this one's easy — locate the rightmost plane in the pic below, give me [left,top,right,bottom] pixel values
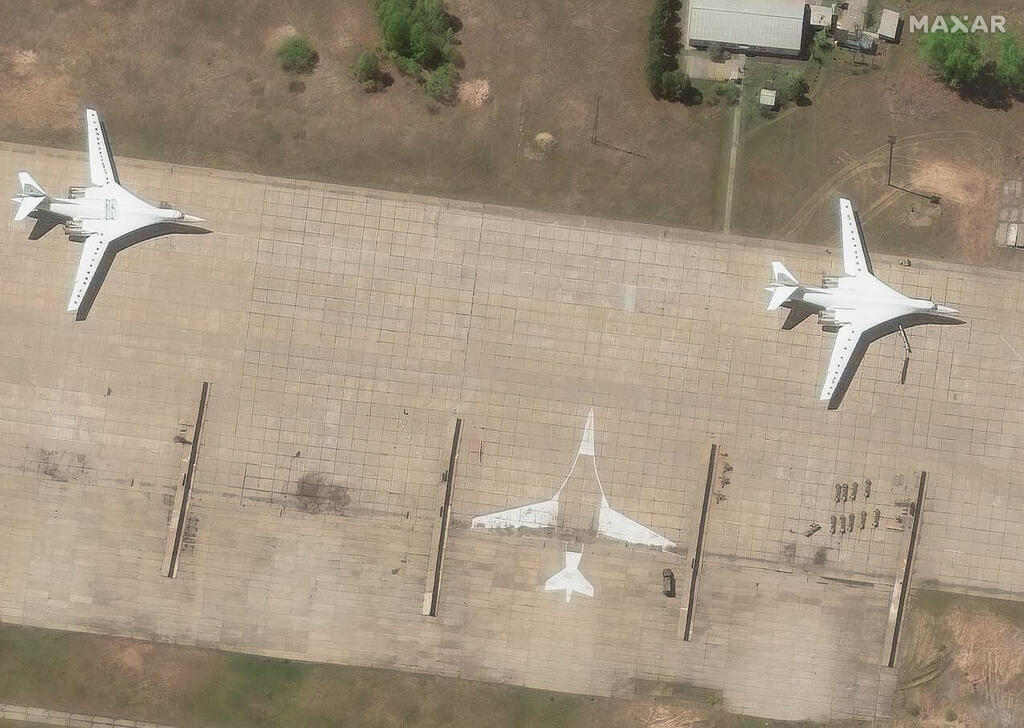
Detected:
[765,198,959,401]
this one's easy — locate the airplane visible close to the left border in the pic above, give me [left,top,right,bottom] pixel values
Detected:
[12,108,205,311]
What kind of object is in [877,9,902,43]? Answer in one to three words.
shed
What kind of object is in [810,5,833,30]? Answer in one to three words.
shed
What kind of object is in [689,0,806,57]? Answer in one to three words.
building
